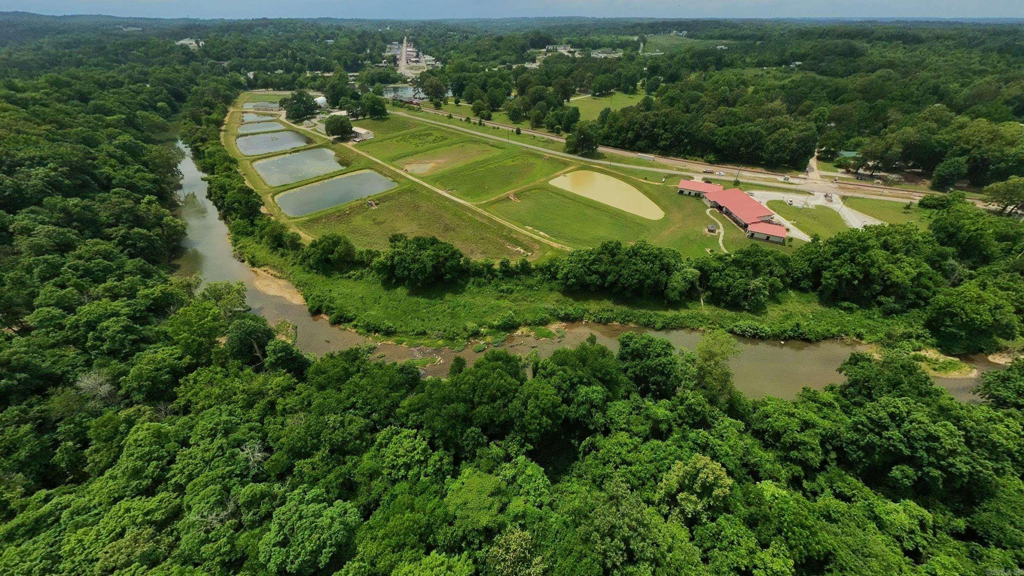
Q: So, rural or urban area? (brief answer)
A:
rural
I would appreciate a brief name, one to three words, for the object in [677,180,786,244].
building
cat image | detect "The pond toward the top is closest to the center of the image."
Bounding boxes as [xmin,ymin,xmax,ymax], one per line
[548,170,666,220]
